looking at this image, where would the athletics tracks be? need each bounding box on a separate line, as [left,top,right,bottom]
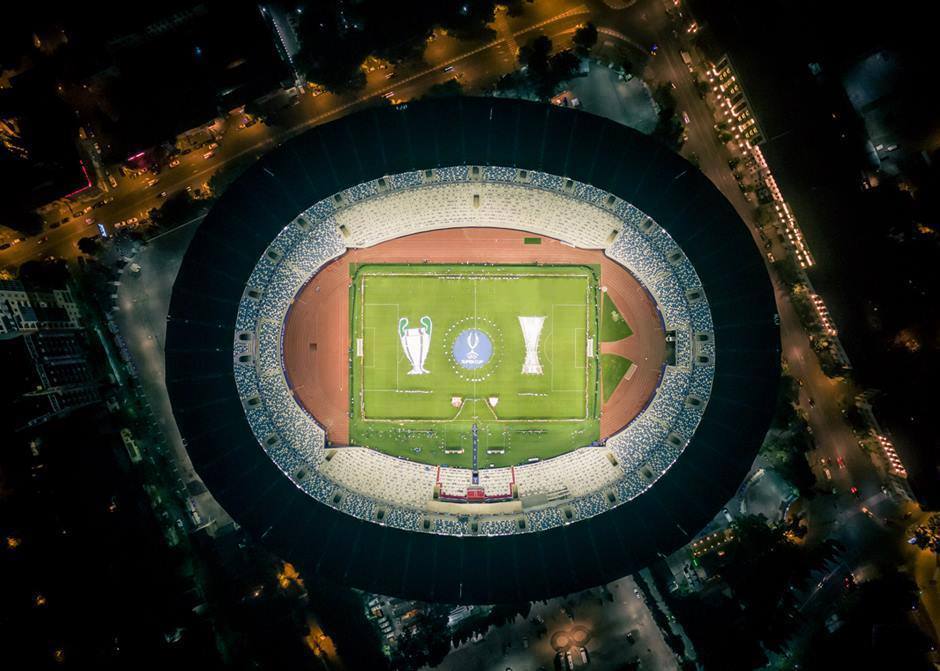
[283,197,681,492]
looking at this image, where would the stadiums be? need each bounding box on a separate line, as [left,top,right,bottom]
[166,97,780,602]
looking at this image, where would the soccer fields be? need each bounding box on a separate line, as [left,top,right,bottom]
[350,263,600,470]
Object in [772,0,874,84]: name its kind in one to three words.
building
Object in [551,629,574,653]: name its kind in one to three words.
fountain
